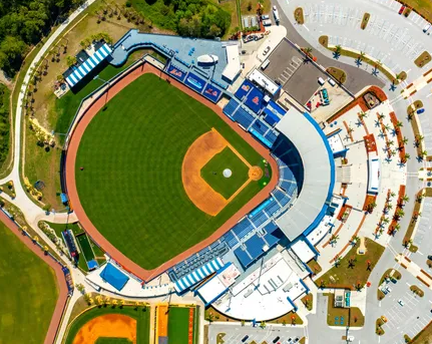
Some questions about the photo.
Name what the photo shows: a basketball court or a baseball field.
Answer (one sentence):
I can see a baseball field in this picture.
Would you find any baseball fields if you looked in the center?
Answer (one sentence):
Yes, a baseball field is visible in the center.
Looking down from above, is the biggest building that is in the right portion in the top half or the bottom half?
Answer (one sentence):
The bottom half of the photo is where the biggest building that is in the right portion is.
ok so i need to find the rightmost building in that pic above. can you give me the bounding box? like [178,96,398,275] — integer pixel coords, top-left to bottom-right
[366,158,379,194]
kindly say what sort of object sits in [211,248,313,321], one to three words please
building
